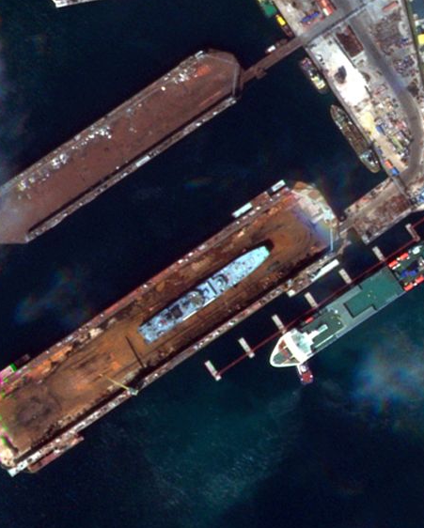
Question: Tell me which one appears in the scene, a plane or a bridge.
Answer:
bridge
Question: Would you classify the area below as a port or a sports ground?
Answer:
port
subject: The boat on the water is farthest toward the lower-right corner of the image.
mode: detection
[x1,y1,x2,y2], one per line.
[300,362,314,385]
